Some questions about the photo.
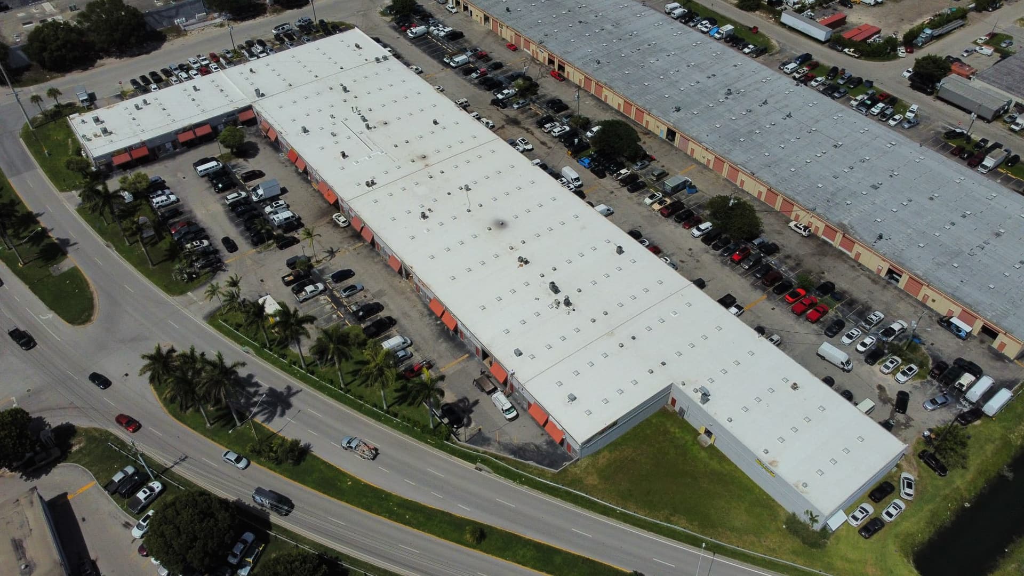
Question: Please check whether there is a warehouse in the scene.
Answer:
Yes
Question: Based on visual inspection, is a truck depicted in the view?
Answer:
Yes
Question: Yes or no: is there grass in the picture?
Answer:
Yes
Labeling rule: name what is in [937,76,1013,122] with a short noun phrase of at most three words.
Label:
building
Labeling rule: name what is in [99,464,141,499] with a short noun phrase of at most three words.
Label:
truck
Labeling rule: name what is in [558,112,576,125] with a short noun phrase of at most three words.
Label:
vehicle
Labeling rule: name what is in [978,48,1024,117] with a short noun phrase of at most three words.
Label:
building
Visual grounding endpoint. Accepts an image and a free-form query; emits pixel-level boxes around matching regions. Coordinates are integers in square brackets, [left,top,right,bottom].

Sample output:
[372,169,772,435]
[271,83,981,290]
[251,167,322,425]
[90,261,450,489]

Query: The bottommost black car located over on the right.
[855,517,886,544]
